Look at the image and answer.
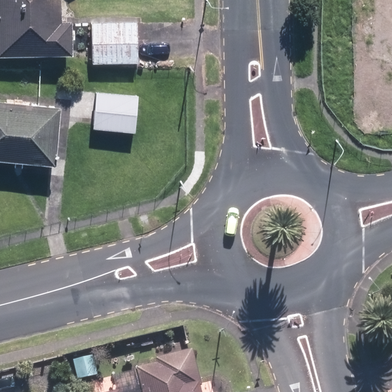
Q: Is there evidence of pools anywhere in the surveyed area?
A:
No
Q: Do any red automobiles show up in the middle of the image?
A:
No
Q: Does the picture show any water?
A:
No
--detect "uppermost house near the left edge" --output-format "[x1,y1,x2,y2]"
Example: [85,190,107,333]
[0,0,74,58]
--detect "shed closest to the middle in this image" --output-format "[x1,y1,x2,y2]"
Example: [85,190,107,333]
[92,92,140,134]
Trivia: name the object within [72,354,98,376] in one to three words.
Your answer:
shed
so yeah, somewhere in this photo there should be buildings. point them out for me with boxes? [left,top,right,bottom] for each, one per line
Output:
[91,22,139,66]
[136,348,204,392]
[0,0,74,58]
[92,92,140,134]
[0,102,62,168]
[72,354,98,376]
